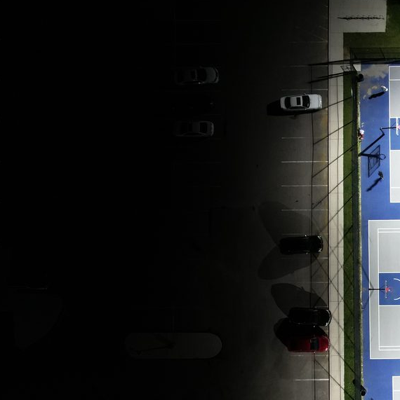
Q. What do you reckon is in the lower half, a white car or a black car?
black car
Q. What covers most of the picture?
paved ground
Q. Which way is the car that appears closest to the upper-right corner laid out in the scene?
from side to side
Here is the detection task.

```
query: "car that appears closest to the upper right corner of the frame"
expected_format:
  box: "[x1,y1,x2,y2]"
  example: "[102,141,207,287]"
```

[279,93,324,114]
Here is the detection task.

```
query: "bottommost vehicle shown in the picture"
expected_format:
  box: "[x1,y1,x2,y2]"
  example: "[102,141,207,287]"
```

[287,333,331,354]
